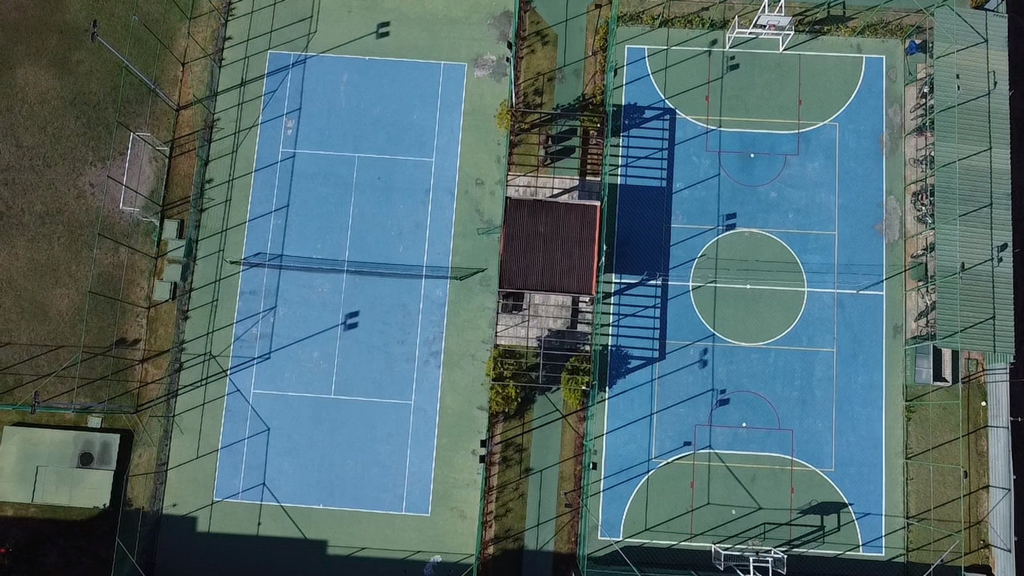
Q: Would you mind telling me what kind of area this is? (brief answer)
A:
sports ground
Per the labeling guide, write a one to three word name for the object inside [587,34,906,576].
sports court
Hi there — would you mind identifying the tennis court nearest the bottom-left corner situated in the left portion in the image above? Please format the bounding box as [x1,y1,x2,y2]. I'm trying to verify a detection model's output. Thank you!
[153,0,513,576]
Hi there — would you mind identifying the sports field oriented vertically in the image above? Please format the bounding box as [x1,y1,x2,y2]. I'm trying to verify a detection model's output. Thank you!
[0,0,192,414]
